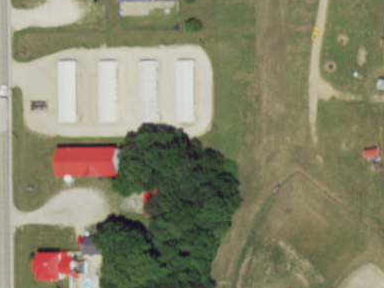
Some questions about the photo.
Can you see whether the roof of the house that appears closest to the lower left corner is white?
No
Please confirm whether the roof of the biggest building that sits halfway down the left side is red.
Yes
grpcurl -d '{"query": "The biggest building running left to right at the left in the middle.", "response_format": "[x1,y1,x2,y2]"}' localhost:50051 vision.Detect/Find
[53,147,118,176]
